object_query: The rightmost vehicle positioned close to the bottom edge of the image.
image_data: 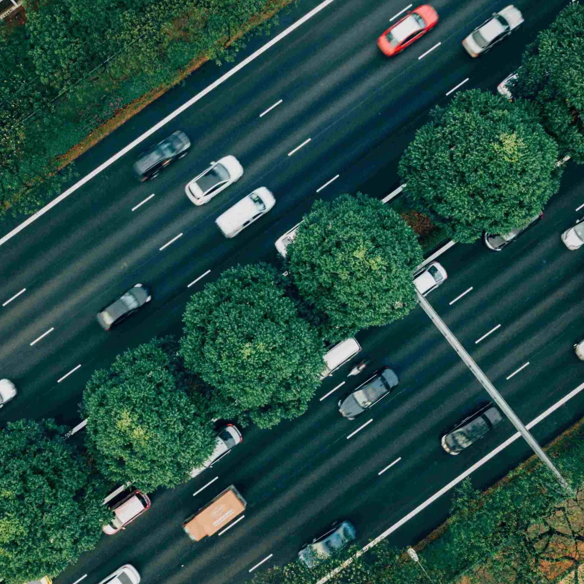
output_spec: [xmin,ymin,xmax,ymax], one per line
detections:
[296,516,358,569]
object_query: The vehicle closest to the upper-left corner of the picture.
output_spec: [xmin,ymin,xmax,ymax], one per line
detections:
[132,131,193,183]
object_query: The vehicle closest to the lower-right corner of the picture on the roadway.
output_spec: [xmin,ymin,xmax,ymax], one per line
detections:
[440,401,503,456]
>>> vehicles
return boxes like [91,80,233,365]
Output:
[377,6,439,59]
[104,485,156,535]
[95,561,140,584]
[440,401,503,456]
[276,208,312,254]
[557,216,584,252]
[338,366,400,419]
[185,485,245,542]
[396,260,449,311]
[214,188,276,239]
[185,156,244,206]
[306,337,364,389]
[95,282,155,332]
[461,7,522,59]
[570,334,584,362]
[186,425,246,477]
[0,377,20,408]
[296,516,358,569]
[132,131,193,183]
[16,569,54,584]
